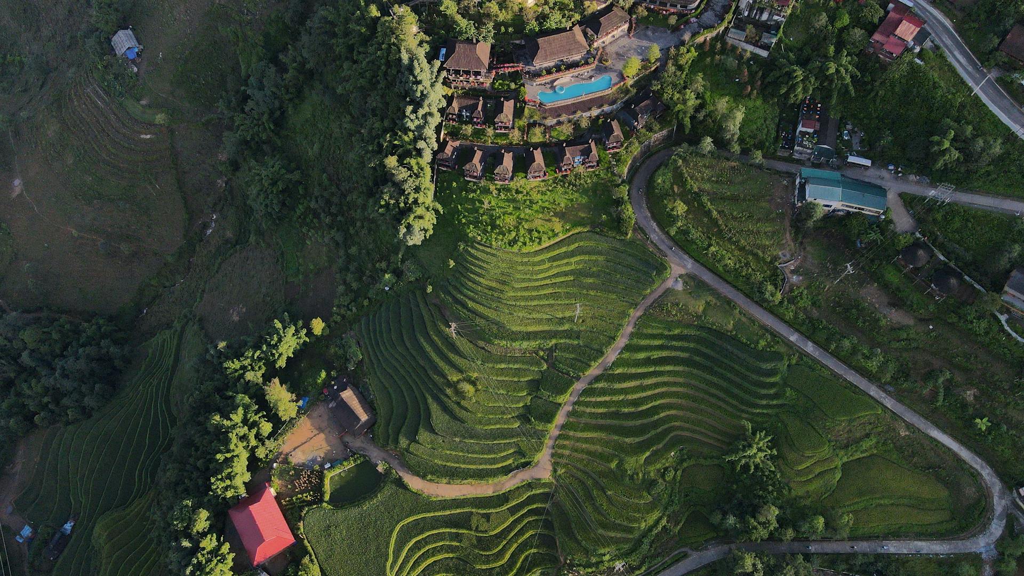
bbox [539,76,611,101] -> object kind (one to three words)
swimming pool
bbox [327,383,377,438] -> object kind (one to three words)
shed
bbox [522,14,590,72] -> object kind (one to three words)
building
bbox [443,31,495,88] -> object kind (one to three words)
building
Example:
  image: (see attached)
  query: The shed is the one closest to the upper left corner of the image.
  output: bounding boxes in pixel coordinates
[111,29,139,60]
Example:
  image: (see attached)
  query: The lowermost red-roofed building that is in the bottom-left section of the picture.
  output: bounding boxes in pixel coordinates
[228,478,298,567]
